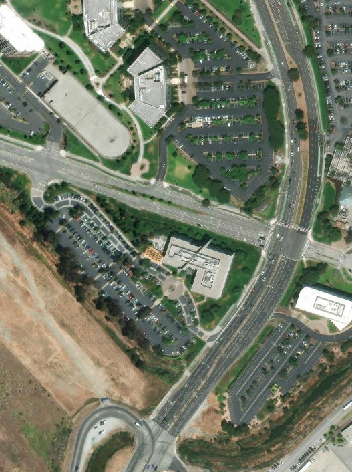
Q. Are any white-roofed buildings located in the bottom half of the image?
Yes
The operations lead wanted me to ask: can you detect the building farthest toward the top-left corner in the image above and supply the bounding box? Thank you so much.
[0,2,44,62]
